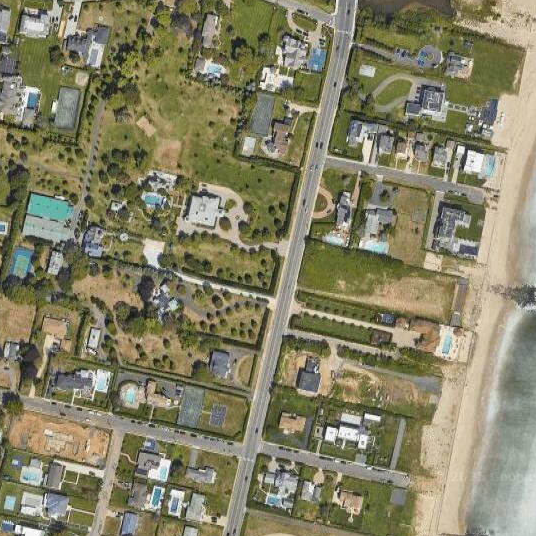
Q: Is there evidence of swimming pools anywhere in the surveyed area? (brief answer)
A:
Yes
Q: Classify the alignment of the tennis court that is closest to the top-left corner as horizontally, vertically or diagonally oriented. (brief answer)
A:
vertically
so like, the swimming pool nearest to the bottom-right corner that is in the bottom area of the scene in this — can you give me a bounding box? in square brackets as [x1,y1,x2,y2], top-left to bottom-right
[434,325,469,360]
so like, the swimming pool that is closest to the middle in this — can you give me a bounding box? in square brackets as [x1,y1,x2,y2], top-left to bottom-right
[322,228,348,244]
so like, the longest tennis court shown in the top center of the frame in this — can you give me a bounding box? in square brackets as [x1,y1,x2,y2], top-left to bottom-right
[251,92,274,135]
